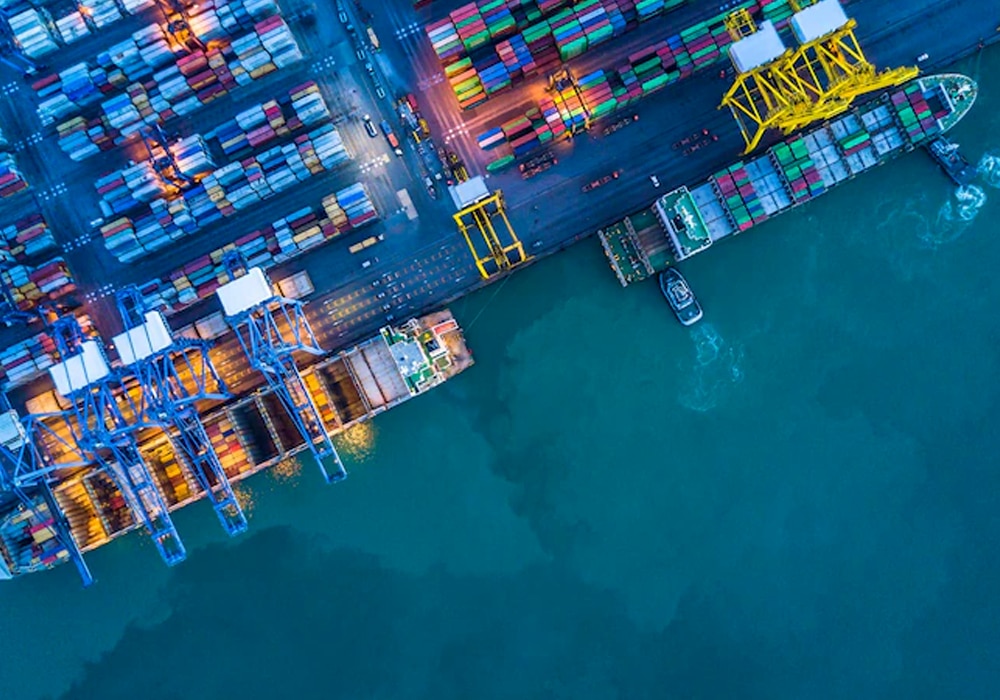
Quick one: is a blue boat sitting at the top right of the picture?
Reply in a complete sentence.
Yes, I can see a blue boat at the top right of the picture.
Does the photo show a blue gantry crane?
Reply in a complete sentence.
Yes, there's a blue gantry crane down there.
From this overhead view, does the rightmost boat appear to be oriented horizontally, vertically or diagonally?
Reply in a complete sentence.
In this picture, the rightmost boat lies diagonally.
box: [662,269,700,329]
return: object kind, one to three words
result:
boat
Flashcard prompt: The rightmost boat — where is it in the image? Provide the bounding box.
[927,141,979,189]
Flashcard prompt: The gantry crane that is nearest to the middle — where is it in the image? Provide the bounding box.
[441,146,530,282]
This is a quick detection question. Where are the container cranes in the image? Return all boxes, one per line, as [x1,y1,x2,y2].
[113,292,250,536]
[441,146,530,282]
[215,246,349,488]
[154,0,209,62]
[52,321,188,566]
[138,118,203,192]
[541,57,593,139]
[773,0,931,130]
[0,358,123,586]
[715,3,862,157]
